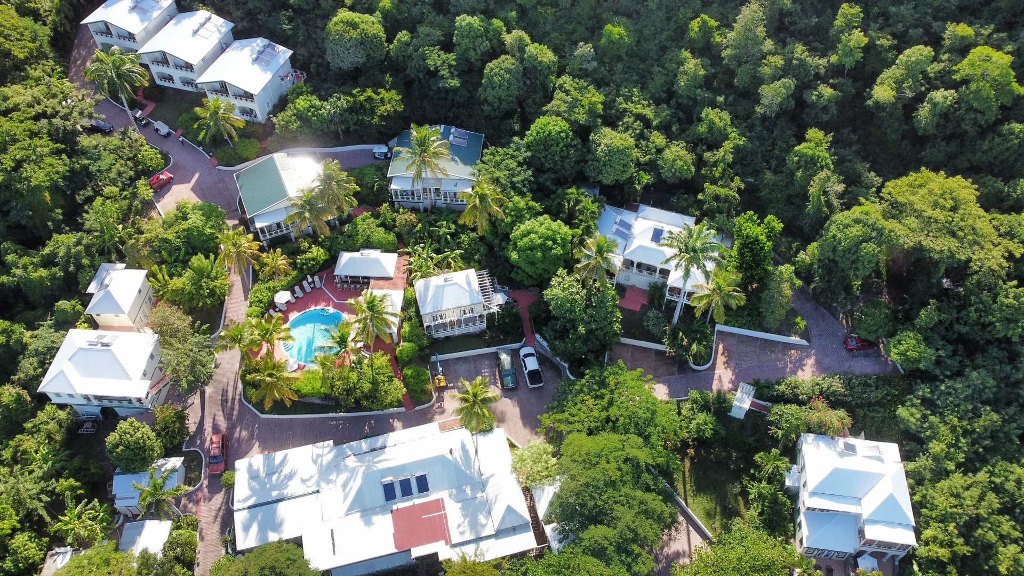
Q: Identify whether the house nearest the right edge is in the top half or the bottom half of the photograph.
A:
bottom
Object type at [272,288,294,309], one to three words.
umbrella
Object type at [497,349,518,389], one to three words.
car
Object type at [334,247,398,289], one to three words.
building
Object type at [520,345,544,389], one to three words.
truck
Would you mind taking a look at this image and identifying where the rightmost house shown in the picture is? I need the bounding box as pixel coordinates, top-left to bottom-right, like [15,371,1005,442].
[775,433,918,576]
